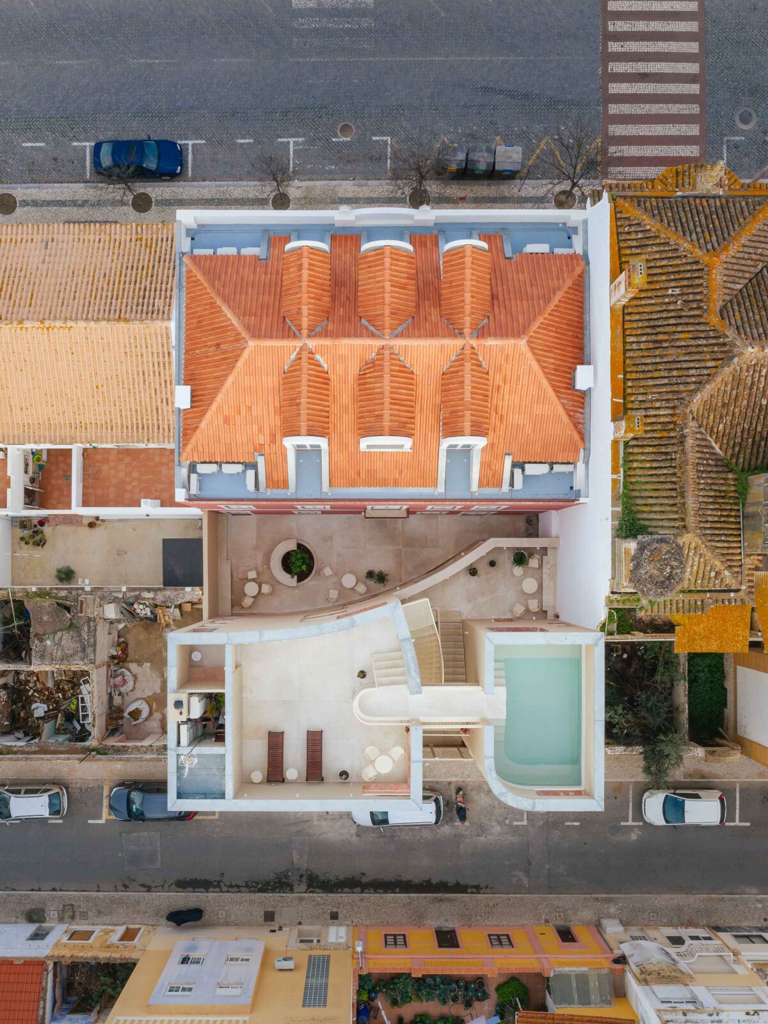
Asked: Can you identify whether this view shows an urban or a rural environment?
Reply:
urban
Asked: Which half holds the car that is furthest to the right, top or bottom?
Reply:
bottom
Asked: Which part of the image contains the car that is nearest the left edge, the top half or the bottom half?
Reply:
bottom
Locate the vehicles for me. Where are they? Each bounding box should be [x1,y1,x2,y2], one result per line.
[94,134,185,183]
[639,785,728,832]
[0,780,70,820]
[352,787,445,833]
[454,786,470,824]
[109,779,199,826]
